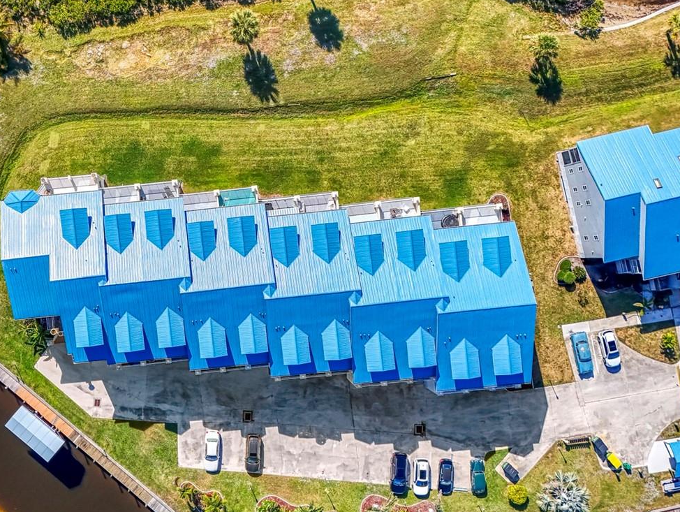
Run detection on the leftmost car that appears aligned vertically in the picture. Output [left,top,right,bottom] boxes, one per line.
[203,429,223,472]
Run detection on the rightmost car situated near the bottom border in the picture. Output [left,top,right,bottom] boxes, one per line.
[468,457,488,496]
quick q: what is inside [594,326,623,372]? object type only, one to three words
car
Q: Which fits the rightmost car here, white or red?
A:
white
